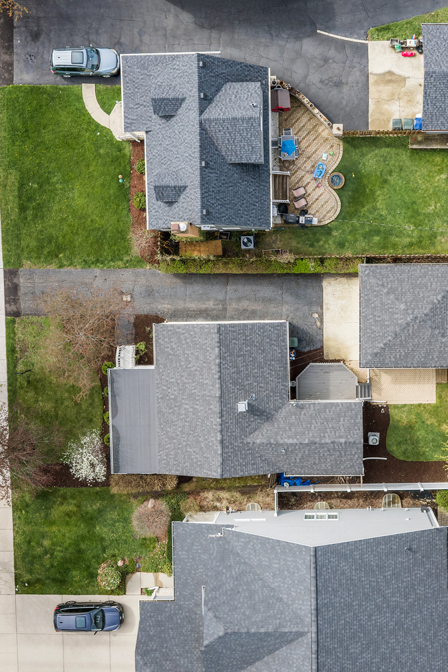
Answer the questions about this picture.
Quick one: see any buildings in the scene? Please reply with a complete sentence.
Yes, the photo shows a building.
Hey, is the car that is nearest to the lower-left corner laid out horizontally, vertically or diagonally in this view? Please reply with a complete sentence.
In this picture, the car that is nearest to the lower-left corner is oriented horizontally.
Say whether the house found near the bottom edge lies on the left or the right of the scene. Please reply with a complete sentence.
The house found near the bottom edge is on the right side of the image.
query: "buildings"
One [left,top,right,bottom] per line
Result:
[359,263,448,368]
[421,23,448,136]
[120,51,272,244]
[109,320,364,479]
[136,507,448,672]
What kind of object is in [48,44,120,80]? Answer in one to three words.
car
